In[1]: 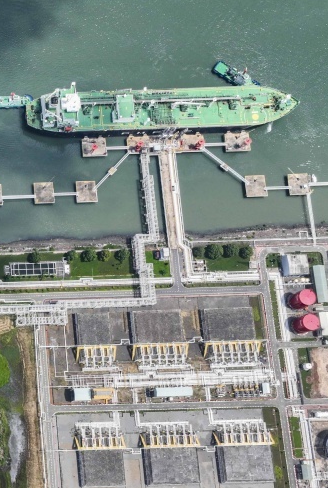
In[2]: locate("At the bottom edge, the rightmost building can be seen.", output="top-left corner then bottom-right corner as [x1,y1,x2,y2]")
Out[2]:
[297,460,314,480]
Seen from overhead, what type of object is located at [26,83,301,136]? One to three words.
ship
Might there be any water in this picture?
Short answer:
Yes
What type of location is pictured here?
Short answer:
industrial area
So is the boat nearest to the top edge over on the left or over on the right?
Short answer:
right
